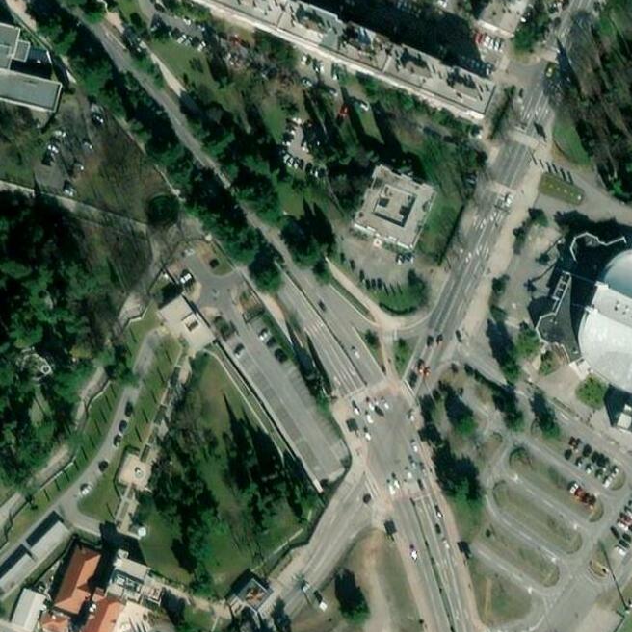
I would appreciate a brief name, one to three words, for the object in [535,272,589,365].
building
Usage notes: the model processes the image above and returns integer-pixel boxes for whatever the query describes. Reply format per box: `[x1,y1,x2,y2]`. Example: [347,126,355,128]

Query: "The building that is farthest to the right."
[570,232,626,279]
